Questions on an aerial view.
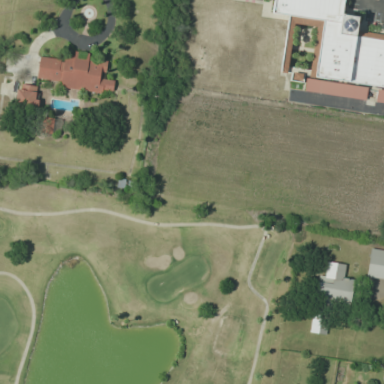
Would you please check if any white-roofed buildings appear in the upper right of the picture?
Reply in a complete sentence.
Yes, the scene does show a white-roofed building in the upper right of the picture.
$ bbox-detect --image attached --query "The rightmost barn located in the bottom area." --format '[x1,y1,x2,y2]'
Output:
[368,250,384,279]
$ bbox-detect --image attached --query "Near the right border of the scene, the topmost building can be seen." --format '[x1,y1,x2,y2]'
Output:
[272,0,384,89]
